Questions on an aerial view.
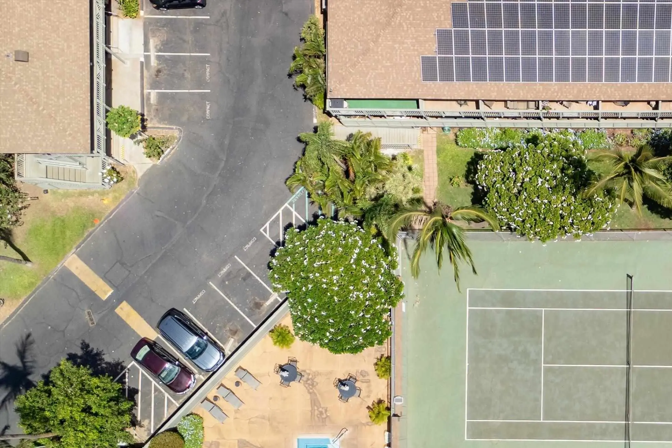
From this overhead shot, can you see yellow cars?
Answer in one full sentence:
No, there appears to be no yellow car in this shot.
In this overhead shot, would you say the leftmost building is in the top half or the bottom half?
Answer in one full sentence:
The leftmost building is in the top half of the image.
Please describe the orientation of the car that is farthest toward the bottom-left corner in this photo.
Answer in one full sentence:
I'd say the car that is farthest toward the bottom-left corner is aligned on a diagonal in the picture.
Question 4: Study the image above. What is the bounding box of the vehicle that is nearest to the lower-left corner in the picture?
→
[124,336,192,393]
